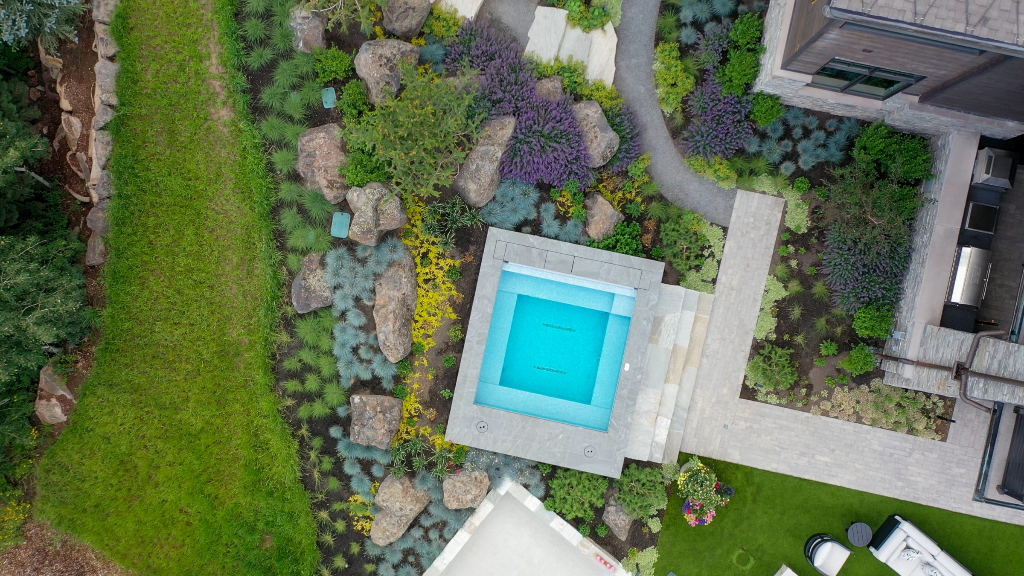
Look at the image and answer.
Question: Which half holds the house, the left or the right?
right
